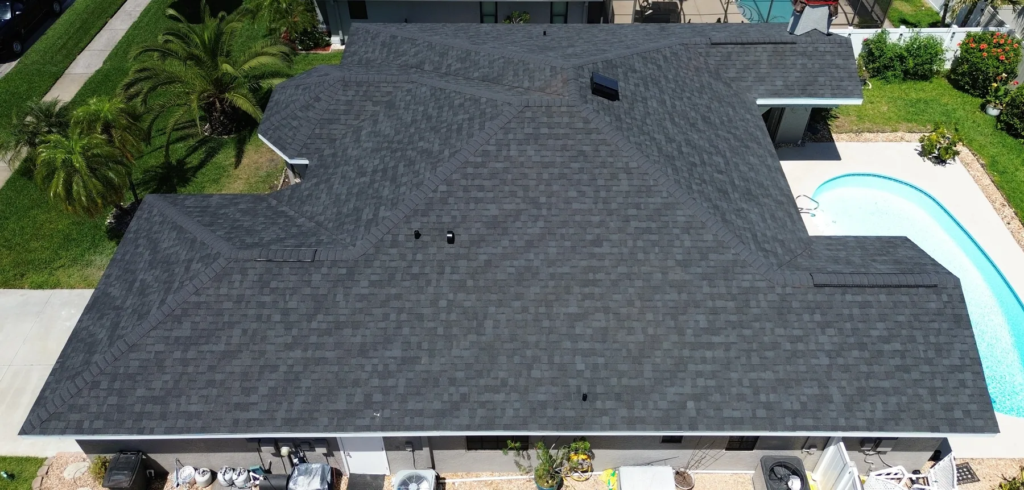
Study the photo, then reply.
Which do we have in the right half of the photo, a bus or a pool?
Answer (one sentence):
The feature located in the right half of the photo is a pool.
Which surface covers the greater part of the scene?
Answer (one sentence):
For the most part, this view shows buildings.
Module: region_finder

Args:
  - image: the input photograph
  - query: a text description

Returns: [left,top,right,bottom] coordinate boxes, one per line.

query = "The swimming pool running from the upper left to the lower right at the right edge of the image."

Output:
[809,171,1024,420]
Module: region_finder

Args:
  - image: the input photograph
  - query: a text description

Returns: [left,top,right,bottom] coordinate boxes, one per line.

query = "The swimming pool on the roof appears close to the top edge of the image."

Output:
[735,0,797,22]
